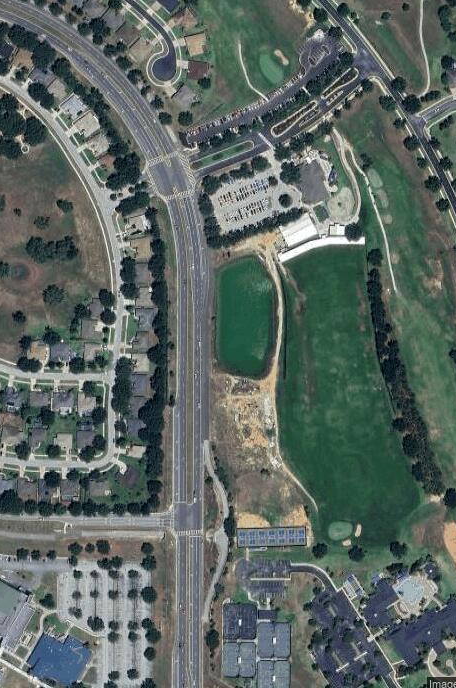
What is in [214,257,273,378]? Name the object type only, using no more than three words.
pond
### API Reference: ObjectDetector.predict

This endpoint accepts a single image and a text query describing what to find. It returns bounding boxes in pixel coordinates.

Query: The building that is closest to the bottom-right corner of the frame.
[383,595,456,662]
